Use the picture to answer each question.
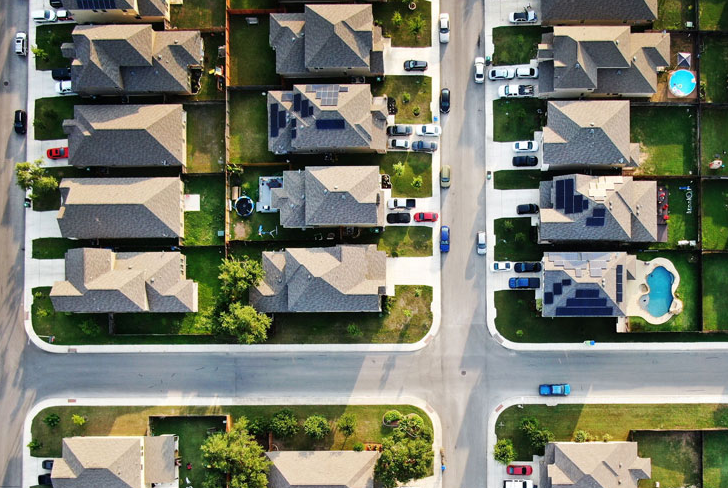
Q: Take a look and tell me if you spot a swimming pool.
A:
Yes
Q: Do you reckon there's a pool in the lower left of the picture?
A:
No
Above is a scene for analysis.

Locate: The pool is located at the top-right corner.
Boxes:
[669,67,698,97]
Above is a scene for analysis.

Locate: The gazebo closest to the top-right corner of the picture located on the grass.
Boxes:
[677,47,694,66]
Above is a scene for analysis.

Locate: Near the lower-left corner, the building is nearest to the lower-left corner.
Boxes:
[49,438,151,488]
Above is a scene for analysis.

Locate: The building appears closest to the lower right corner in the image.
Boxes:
[540,442,651,488]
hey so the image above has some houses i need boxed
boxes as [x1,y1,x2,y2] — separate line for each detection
[270,3,384,78]
[58,0,185,22]
[543,252,637,317]
[61,23,203,97]
[540,442,651,488]
[249,242,386,312]
[51,246,196,312]
[539,171,658,243]
[49,438,151,488]
[271,166,384,228]
[268,84,388,155]
[267,451,386,488]
[541,99,640,170]
[62,104,186,168]
[538,25,670,97]
[56,177,186,239]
